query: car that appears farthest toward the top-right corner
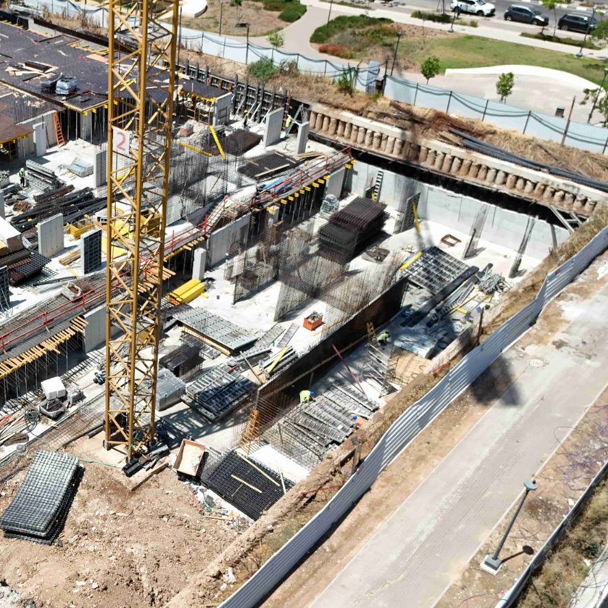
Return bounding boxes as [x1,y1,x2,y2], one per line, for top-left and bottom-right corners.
[554,13,608,35]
